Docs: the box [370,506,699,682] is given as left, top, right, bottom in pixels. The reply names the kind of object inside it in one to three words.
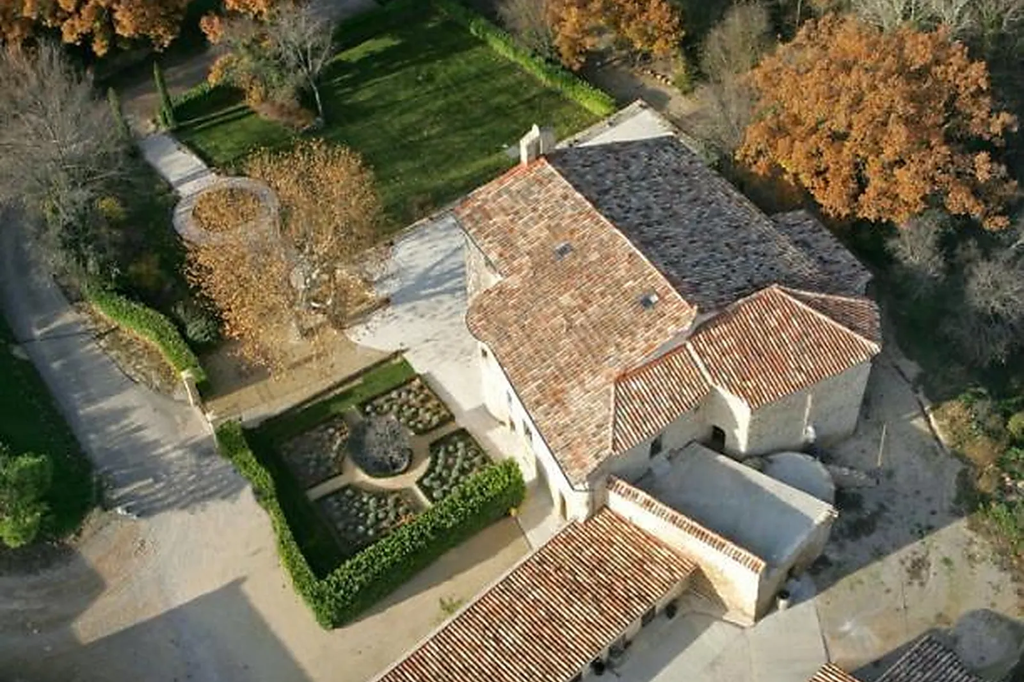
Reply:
shed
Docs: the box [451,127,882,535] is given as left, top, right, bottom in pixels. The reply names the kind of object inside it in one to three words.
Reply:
house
